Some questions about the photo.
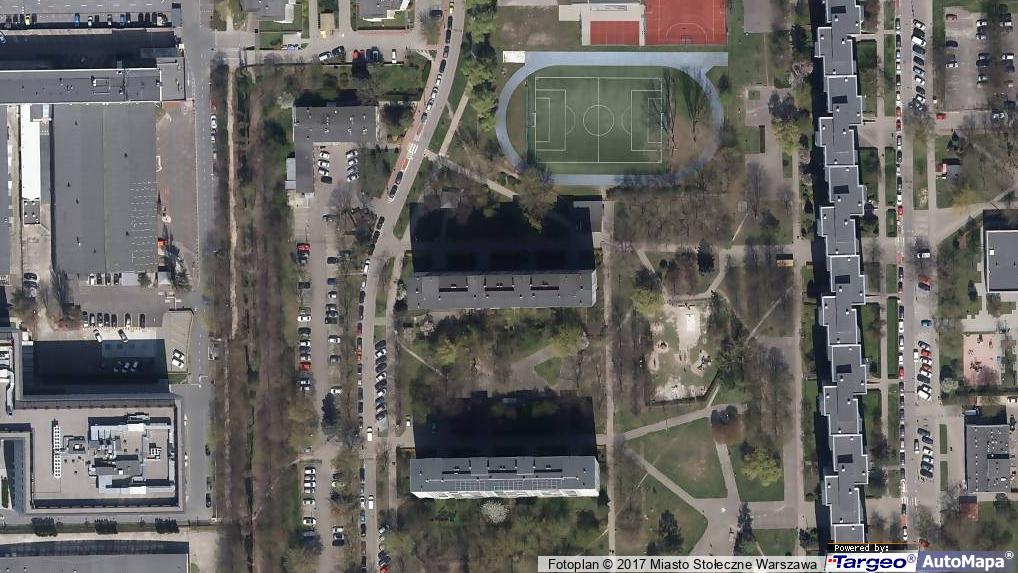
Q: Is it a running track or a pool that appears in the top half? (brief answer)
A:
running track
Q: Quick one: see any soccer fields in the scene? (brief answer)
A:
Yes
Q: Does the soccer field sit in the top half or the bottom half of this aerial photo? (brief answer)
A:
top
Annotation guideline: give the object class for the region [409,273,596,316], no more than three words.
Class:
building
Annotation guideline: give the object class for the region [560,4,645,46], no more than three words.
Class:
sports court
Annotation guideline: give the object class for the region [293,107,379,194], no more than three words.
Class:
building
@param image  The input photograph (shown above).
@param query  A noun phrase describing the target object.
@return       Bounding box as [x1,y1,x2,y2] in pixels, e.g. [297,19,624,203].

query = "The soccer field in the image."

[527,66,667,173]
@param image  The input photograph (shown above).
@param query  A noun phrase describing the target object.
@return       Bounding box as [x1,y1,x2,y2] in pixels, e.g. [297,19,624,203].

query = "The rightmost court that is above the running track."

[645,0,727,45]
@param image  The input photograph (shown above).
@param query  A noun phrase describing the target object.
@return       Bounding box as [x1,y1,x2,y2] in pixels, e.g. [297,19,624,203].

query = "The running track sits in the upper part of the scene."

[497,52,728,186]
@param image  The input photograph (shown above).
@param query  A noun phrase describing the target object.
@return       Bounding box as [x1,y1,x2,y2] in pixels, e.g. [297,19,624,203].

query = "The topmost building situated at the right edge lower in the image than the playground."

[967,426,1010,494]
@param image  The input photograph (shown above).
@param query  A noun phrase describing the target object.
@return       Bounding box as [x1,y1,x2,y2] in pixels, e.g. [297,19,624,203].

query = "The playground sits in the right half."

[963,333,1002,387]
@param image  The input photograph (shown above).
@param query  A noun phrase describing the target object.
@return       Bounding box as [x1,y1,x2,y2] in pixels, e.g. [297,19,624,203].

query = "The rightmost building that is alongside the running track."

[815,0,874,573]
